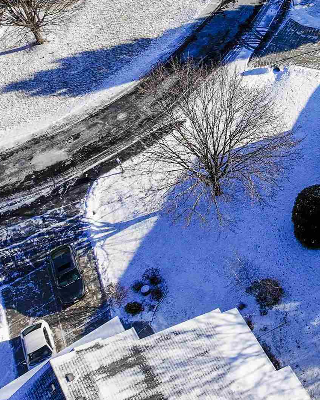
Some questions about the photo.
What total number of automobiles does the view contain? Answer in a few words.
two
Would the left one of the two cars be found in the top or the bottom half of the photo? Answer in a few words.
bottom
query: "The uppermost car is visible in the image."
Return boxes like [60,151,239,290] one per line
[44,238,85,303]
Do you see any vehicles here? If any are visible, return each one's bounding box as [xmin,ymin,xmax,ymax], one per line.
[12,306,54,365]
[44,238,85,303]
